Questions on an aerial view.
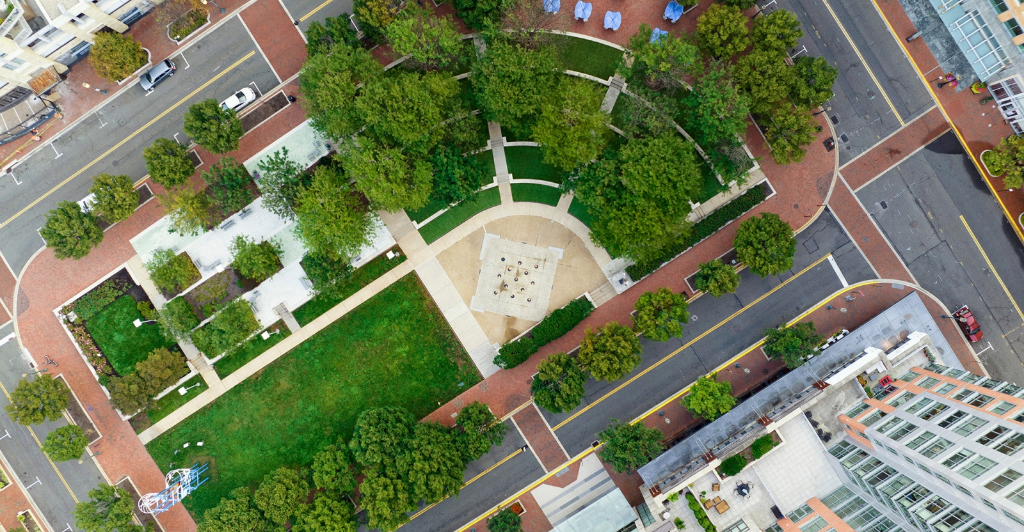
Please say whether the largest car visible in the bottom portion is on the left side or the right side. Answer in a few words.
right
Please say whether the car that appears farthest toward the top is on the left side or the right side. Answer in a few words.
left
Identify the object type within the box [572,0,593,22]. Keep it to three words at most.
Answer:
umbrella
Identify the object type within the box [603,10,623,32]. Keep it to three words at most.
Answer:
umbrella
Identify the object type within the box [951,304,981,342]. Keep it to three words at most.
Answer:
car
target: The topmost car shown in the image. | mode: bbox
[139,59,178,92]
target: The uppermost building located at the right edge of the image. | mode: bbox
[929,0,1024,98]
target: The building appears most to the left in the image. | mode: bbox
[0,0,158,147]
